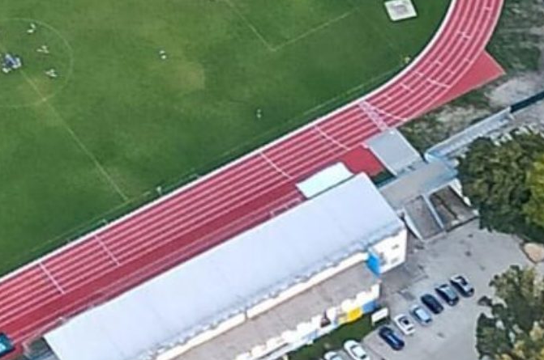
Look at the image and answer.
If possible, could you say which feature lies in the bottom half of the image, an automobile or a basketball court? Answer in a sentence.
What appears in the bottom half of the image is an automobile.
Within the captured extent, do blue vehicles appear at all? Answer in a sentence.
Yes, the frame does contain a blue vehicle.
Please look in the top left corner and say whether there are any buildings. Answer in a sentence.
No, no building appears in the top left corner.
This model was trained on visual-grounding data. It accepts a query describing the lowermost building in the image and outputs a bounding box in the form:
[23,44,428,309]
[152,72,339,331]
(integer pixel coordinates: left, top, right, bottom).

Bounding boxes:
[149,256,377,360]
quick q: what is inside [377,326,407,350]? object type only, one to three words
car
